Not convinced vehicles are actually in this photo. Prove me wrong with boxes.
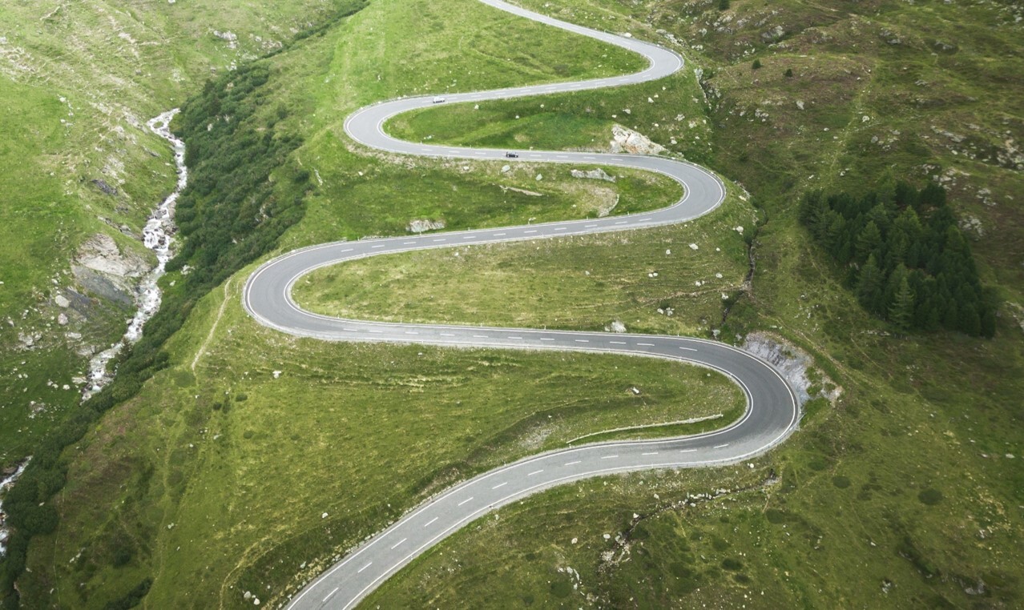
[505,151,518,157]
[432,96,444,102]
